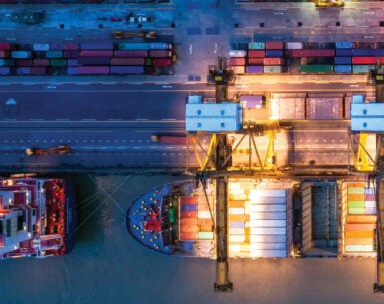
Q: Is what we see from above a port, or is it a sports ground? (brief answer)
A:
port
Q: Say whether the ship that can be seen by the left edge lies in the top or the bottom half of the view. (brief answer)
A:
bottom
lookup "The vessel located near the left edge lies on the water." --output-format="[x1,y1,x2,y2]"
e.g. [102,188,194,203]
[0,172,76,258]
